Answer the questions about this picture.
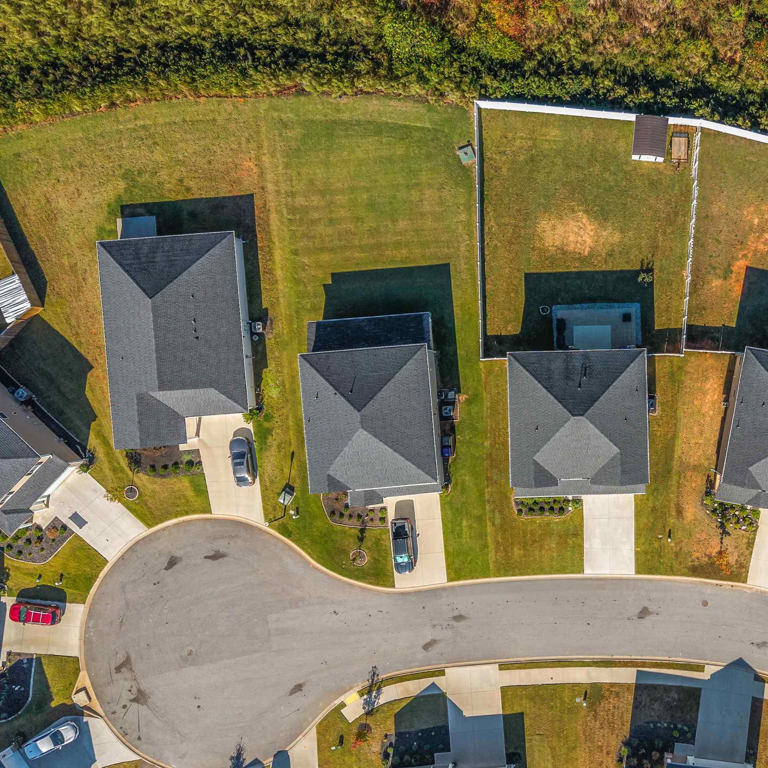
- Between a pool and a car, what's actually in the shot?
car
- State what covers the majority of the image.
grass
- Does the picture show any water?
No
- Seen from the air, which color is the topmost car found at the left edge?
red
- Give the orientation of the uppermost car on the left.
up and down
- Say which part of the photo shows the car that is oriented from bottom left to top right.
bottom left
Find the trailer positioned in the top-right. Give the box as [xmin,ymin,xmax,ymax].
[669,121,691,174]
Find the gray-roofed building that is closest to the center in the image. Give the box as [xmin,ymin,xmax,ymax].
[298,312,443,507]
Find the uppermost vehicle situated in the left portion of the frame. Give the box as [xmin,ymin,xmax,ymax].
[230,435,258,486]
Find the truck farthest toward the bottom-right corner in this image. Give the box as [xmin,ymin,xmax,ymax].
[392,515,418,574]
